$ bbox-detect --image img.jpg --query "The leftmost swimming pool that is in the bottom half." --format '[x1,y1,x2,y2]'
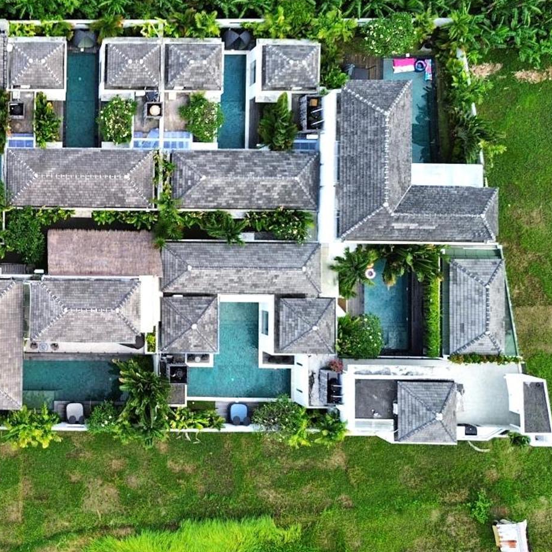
[25,359,121,410]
